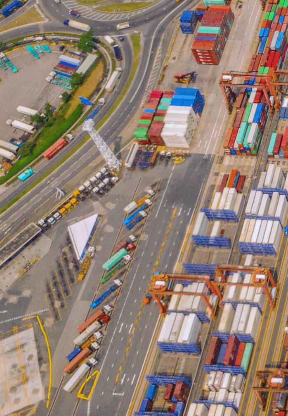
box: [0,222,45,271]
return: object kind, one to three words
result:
building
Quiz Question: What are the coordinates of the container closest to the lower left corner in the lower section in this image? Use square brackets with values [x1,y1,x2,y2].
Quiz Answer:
[62,347,93,373]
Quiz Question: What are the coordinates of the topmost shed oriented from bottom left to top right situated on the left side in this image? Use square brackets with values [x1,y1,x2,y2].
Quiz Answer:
[75,55,100,78]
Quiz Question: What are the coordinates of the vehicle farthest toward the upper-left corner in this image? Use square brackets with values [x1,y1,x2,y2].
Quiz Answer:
[0,0,27,17]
